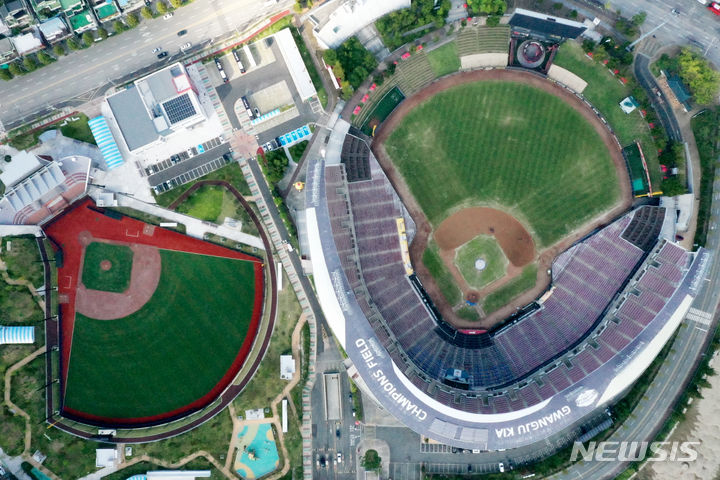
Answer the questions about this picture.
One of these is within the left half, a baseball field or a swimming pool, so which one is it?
baseball field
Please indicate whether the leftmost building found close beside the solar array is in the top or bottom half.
top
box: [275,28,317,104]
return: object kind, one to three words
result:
building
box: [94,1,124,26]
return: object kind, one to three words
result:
house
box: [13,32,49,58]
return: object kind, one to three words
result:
house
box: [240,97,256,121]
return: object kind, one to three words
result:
vehicle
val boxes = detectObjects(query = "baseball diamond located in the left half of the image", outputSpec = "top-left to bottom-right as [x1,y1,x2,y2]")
[47,198,262,423]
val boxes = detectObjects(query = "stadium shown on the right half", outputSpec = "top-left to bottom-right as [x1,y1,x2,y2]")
[299,121,710,451]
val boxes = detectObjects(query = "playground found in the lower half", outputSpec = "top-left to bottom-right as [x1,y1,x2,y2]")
[234,423,279,479]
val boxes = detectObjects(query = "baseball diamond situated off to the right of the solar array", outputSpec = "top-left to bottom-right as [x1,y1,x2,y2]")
[371,70,641,337]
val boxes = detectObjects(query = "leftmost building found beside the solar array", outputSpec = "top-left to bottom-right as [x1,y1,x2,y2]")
[107,84,170,155]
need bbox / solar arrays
[162,93,196,124]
